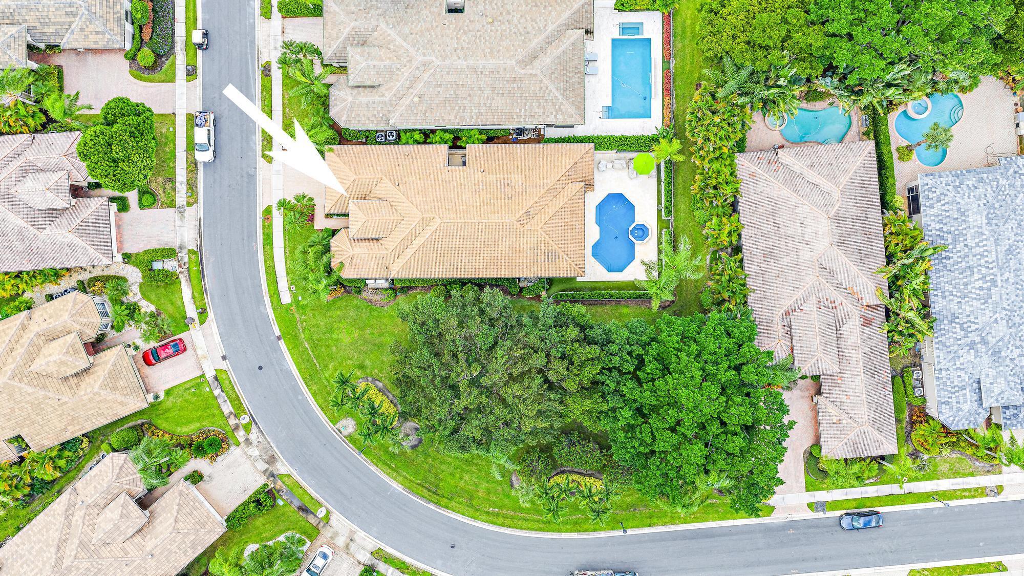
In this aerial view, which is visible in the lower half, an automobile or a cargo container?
automobile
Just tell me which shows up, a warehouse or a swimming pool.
swimming pool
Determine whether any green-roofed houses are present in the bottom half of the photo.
No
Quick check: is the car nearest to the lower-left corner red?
Yes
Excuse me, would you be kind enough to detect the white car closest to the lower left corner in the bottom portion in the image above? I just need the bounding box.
[299,547,330,576]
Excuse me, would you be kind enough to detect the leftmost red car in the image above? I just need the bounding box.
[139,338,185,365]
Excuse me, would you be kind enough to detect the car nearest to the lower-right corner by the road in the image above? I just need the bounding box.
[842,511,889,535]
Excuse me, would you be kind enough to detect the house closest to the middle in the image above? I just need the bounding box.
[324,143,595,279]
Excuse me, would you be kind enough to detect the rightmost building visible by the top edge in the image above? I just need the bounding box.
[322,0,594,130]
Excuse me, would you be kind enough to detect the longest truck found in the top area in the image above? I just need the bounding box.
[189,109,215,161]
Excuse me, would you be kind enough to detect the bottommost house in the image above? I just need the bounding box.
[0,451,228,576]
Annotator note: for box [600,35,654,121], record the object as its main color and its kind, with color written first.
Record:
blue swimming pool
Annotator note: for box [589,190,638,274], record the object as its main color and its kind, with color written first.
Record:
blue swimming pool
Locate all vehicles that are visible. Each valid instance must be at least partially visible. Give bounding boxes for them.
[191,28,210,51]
[189,109,215,161]
[299,547,330,576]
[139,338,185,365]
[842,511,889,535]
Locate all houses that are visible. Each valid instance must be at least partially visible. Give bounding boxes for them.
[734,140,899,460]
[0,0,132,72]
[322,0,594,130]
[324,143,595,279]
[0,130,118,272]
[0,451,228,576]
[0,289,153,468]
[906,154,1024,431]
